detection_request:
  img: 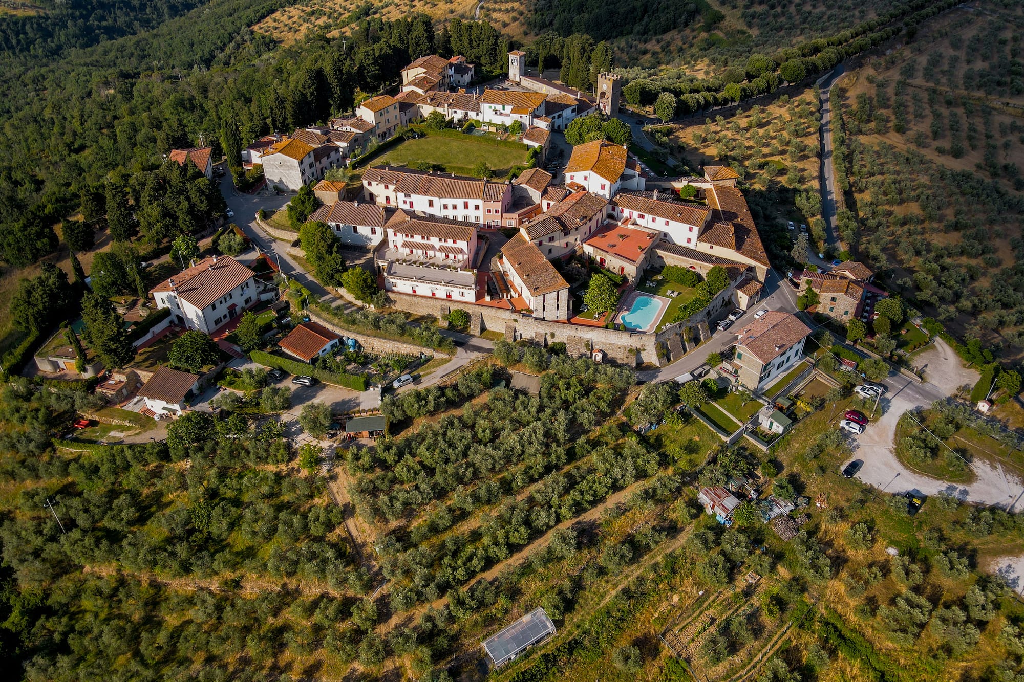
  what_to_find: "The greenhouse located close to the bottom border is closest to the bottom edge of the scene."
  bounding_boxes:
[483,613,561,676]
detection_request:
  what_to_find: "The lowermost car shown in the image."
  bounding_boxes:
[842,453,867,477]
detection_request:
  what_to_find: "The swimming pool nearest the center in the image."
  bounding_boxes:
[613,290,672,331]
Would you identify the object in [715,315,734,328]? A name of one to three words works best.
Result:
vehicle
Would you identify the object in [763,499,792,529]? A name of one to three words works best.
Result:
shed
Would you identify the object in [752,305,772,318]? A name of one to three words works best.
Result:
vehicle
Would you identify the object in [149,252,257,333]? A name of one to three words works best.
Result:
house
